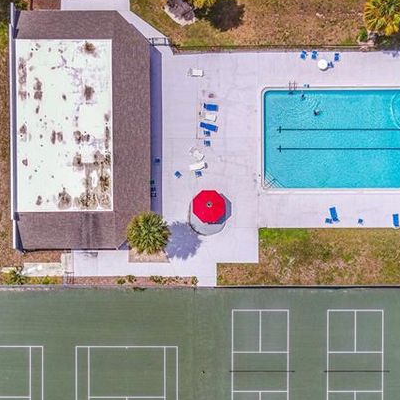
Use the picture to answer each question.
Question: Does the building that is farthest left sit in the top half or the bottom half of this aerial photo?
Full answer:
The building that is farthest left sits in the top half of the picture.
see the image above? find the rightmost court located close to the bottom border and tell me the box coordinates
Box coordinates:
[324,309,391,400]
